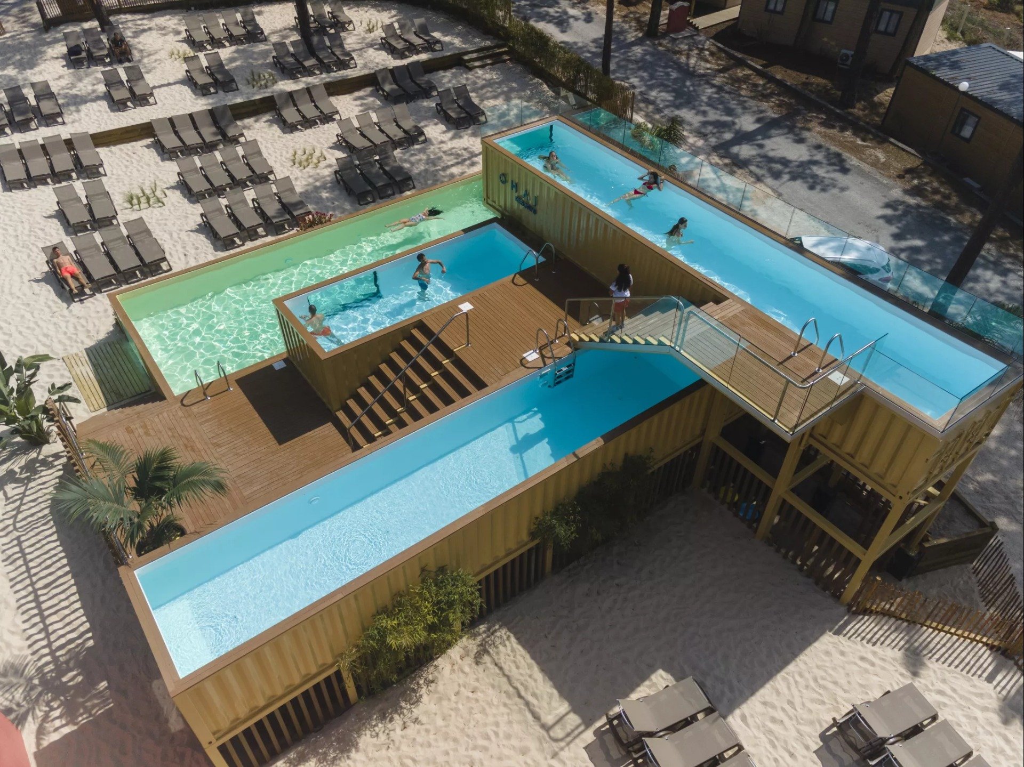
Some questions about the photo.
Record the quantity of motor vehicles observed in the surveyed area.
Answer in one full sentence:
The picture shows just 1 motor vehicle.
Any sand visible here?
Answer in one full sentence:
Yes, sand can be seen from above here.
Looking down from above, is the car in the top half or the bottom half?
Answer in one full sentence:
The car is in the top half of the image.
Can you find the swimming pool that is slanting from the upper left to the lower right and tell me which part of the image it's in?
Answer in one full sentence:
Look in the right portion of the view to spot the swimming pool that is slanting from the upper left to the lower right.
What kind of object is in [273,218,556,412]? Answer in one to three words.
swimming pool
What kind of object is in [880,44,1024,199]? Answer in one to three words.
building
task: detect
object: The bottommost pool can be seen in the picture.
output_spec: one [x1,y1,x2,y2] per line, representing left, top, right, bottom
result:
[118,345,714,746]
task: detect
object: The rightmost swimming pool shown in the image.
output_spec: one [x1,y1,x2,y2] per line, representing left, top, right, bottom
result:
[481,114,1024,502]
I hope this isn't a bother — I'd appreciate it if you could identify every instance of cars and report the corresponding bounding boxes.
[780,231,889,292]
